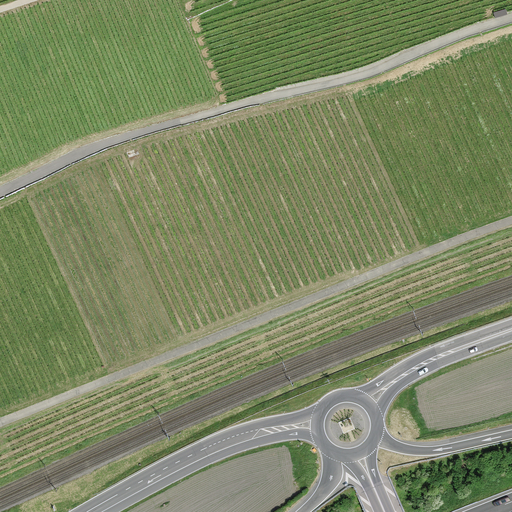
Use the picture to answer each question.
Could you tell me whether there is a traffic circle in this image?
Yes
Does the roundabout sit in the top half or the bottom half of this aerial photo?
bottom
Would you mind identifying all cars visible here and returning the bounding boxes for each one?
[418,367,429,375]
[494,497,510,506]
[469,346,478,352]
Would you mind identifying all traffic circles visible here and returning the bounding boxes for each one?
[310,389,384,462]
